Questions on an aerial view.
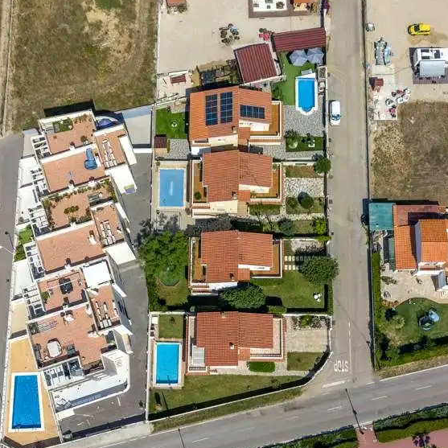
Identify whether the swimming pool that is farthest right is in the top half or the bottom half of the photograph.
top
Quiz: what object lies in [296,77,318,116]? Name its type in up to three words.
swimming pool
